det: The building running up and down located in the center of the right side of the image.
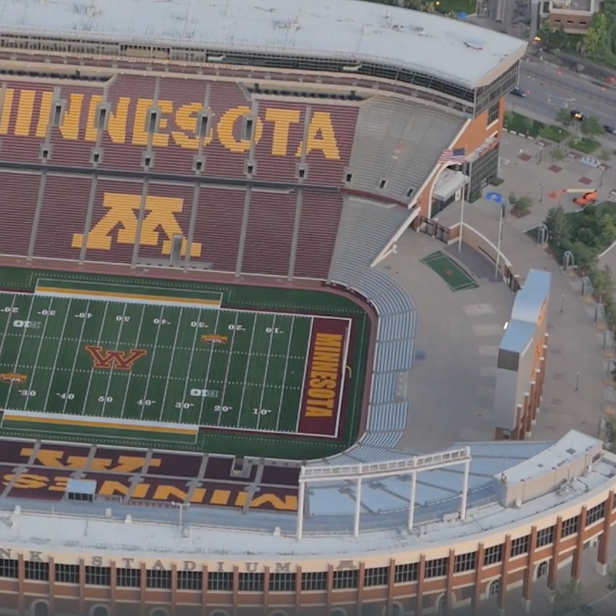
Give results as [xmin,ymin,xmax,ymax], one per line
[491,268,551,440]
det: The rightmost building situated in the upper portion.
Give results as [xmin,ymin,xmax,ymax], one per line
[550,0,594,34]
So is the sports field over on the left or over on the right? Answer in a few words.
left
